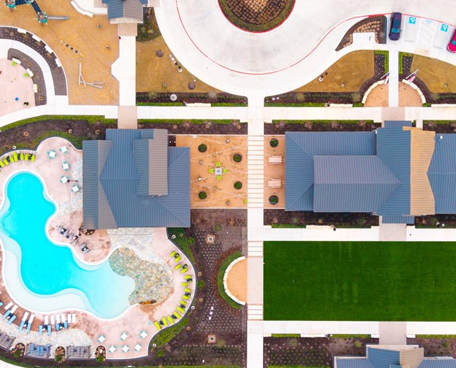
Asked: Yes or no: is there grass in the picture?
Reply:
Yes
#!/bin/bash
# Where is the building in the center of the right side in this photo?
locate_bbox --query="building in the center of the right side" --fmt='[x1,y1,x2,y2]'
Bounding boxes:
[285,119,456,224]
